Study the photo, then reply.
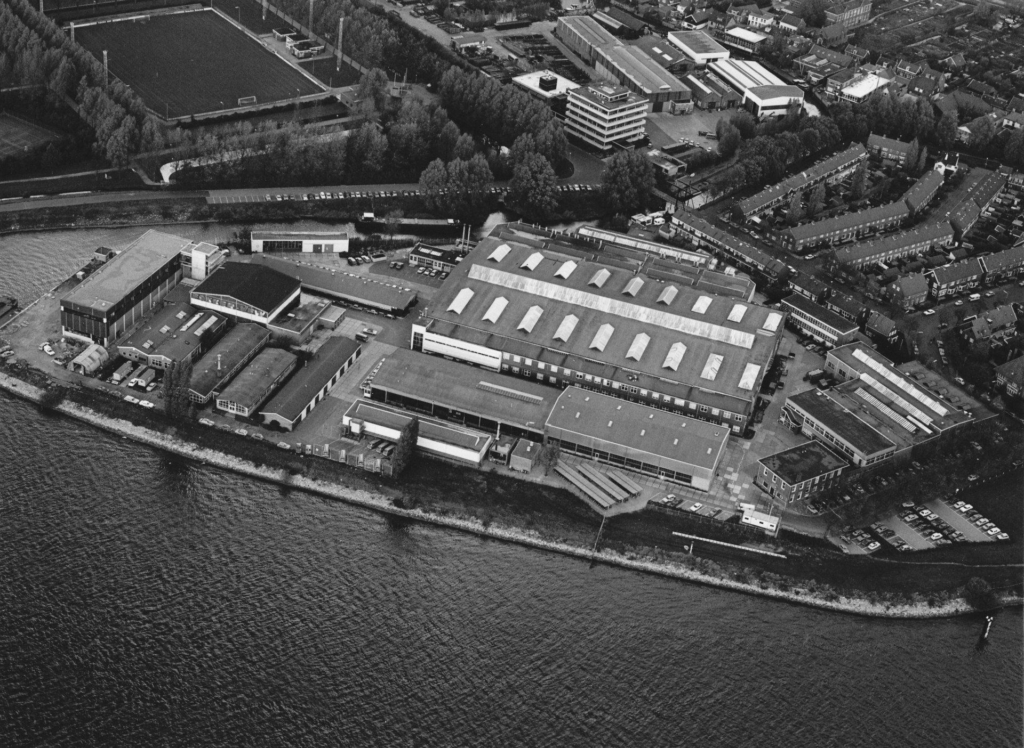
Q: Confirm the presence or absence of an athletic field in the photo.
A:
Yes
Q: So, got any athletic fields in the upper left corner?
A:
Yes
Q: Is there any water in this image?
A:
Yes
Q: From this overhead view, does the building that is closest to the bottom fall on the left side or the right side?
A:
right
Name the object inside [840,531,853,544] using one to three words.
vehicle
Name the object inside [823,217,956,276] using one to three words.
house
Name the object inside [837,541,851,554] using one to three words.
vehicle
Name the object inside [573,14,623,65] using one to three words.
building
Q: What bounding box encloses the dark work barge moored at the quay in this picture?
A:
[0,298,21,321]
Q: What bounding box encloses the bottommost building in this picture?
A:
[741,508,778,532]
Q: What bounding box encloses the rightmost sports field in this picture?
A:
[302,57,361,87]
